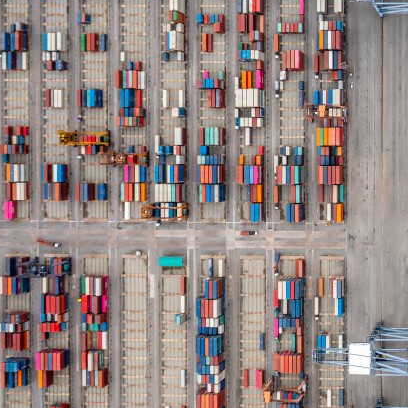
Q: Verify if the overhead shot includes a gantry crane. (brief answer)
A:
Yes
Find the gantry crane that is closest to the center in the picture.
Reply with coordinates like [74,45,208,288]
[137,205,188,224]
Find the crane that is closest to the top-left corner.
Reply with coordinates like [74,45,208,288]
[55,129,109,147]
